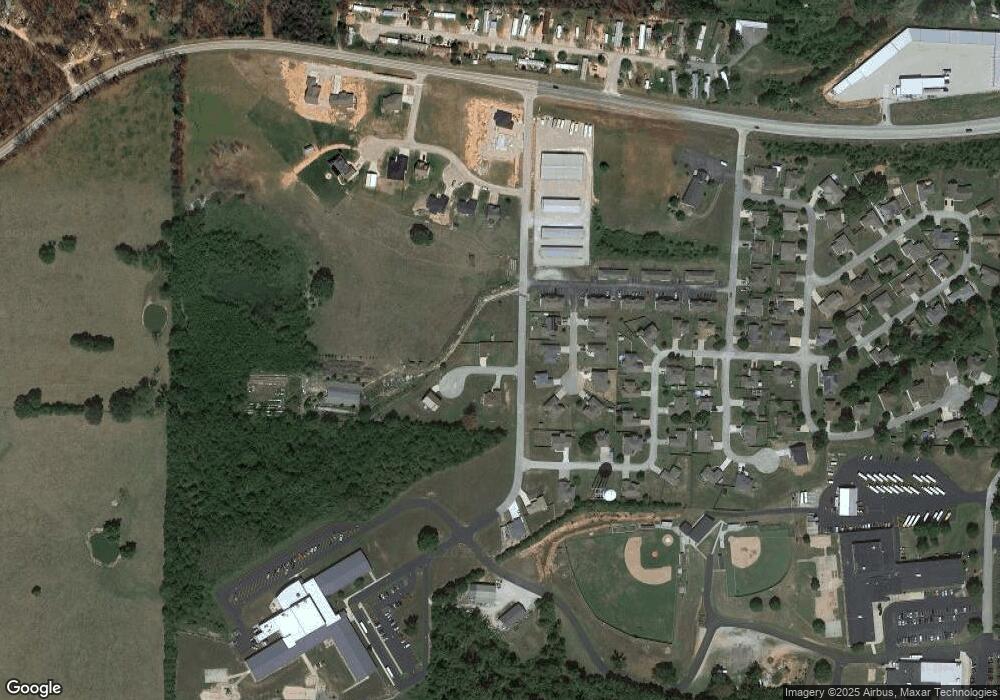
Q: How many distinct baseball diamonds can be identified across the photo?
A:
2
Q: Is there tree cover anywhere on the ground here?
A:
Yes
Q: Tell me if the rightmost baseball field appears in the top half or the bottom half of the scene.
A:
bottom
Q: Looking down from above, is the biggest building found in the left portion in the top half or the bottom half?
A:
bottom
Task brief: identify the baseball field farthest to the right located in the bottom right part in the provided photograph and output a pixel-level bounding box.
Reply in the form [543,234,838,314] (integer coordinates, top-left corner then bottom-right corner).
[727,528,794,597]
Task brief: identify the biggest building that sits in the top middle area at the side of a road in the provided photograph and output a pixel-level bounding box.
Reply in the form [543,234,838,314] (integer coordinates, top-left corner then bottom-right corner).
[540,152,585,181]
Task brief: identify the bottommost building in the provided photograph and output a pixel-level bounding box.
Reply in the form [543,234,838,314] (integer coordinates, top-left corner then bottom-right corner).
[885,659,962,700]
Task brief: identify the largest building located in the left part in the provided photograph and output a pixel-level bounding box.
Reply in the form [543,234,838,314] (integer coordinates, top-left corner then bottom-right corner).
[248,548,377,684]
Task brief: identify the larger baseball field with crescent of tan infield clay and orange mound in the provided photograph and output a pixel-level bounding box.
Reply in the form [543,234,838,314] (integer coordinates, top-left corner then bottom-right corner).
[565,530,680,642]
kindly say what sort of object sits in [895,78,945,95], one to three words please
building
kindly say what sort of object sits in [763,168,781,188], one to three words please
house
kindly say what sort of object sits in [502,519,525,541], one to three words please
house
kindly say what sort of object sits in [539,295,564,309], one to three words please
building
